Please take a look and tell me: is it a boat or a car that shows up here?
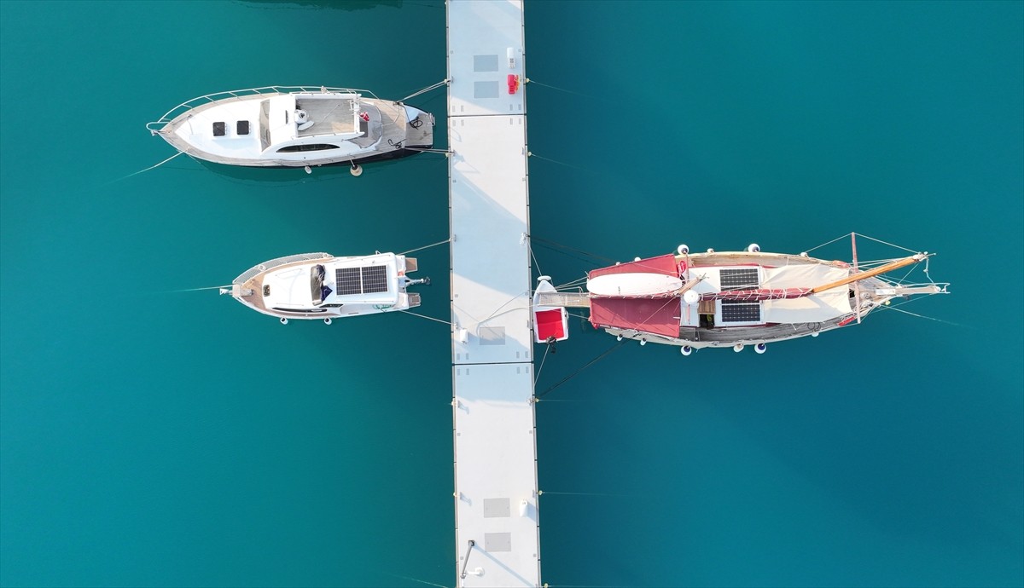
boat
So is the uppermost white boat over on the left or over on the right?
left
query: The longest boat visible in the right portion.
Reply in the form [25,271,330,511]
[585,233,950,348]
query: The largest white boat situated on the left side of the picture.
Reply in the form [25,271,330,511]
[146,85,435,174]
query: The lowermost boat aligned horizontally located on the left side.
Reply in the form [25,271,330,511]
[220,251,430,322]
